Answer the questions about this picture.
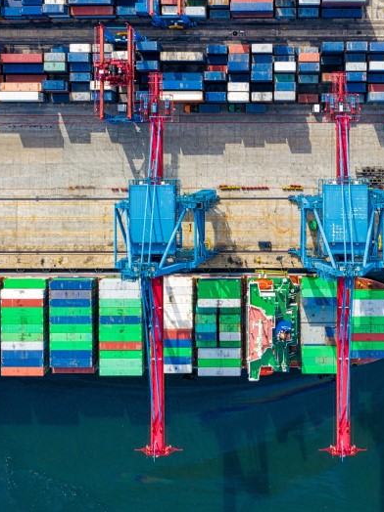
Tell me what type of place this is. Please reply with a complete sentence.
The picture captures a port.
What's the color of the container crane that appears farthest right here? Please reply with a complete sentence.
From above, the container crane that appears farthest right appears blue.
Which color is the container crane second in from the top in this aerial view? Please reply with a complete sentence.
From above, the container crane second in from the top appears red.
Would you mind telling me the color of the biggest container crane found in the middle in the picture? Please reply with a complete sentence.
The biggest container crane found in the middle looks blue in the image.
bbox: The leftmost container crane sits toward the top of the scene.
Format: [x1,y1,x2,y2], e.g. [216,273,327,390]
[96,22,153,122]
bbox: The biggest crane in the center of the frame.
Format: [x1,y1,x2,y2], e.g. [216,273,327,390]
[109,72,220,464]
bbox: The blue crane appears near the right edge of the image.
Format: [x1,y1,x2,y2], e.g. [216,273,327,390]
[289,72,384,462]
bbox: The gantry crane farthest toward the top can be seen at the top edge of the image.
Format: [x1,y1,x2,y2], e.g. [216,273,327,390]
[146,0,199,29]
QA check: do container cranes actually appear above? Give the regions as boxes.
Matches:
[96,22,153,122]
[146,0,199,29]
[289,72,384,462]
[109,72,220,464]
